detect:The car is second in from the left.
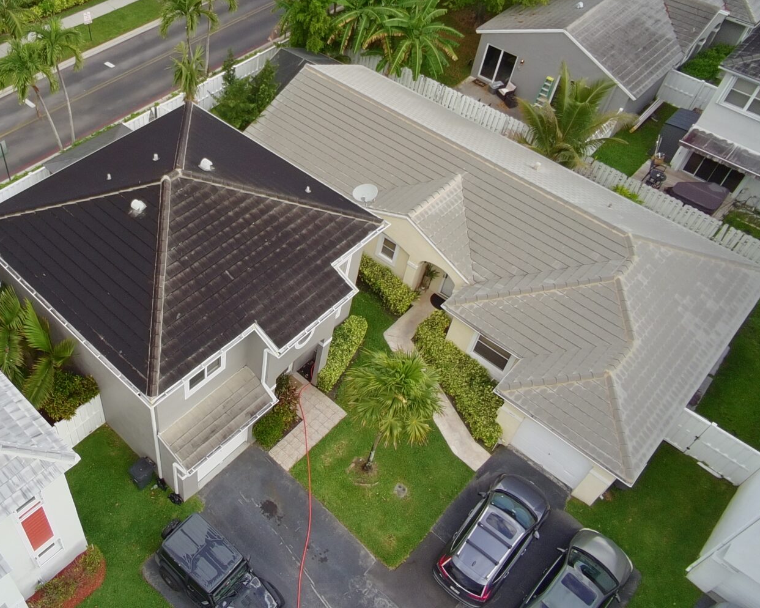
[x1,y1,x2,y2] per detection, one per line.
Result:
[434,475,544,608]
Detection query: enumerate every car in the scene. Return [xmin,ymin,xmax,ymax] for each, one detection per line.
[527,532,628,608]
[158,512,276,608]
[434,475,544,608]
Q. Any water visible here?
No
